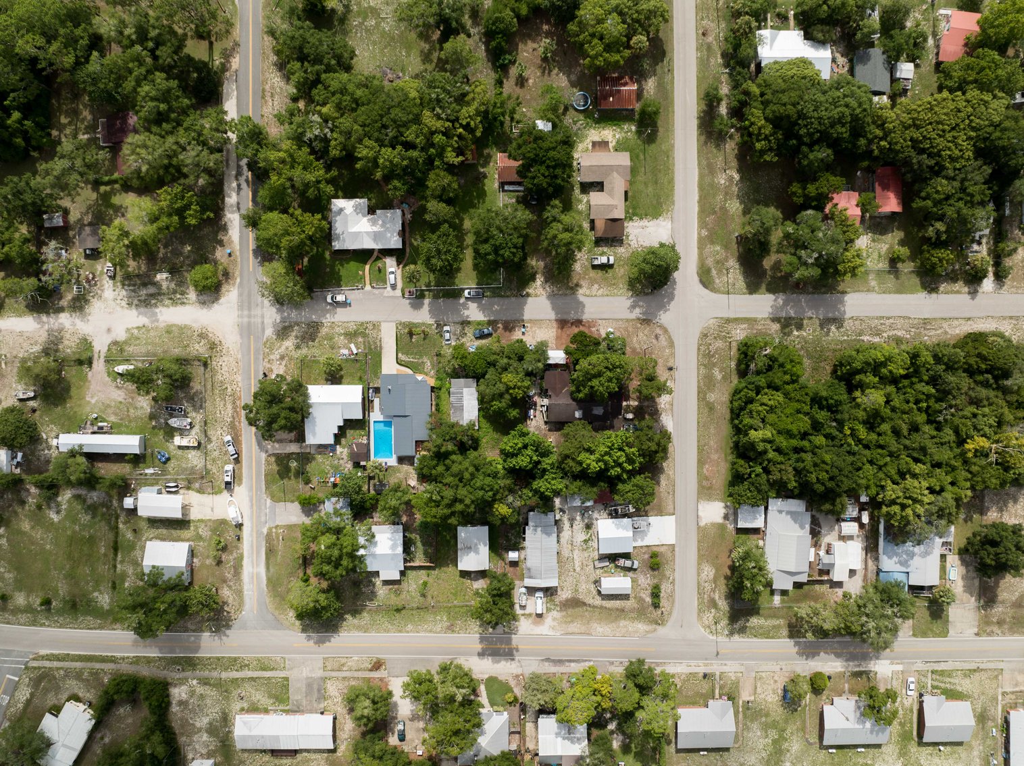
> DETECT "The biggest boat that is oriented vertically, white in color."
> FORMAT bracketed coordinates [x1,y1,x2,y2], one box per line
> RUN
[229,497,241,528]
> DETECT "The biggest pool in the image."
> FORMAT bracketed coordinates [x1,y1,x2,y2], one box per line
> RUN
[372,420,394,460]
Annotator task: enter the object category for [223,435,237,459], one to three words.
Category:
car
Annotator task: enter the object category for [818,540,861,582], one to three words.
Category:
building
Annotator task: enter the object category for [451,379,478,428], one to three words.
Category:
shed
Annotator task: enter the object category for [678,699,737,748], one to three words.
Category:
house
